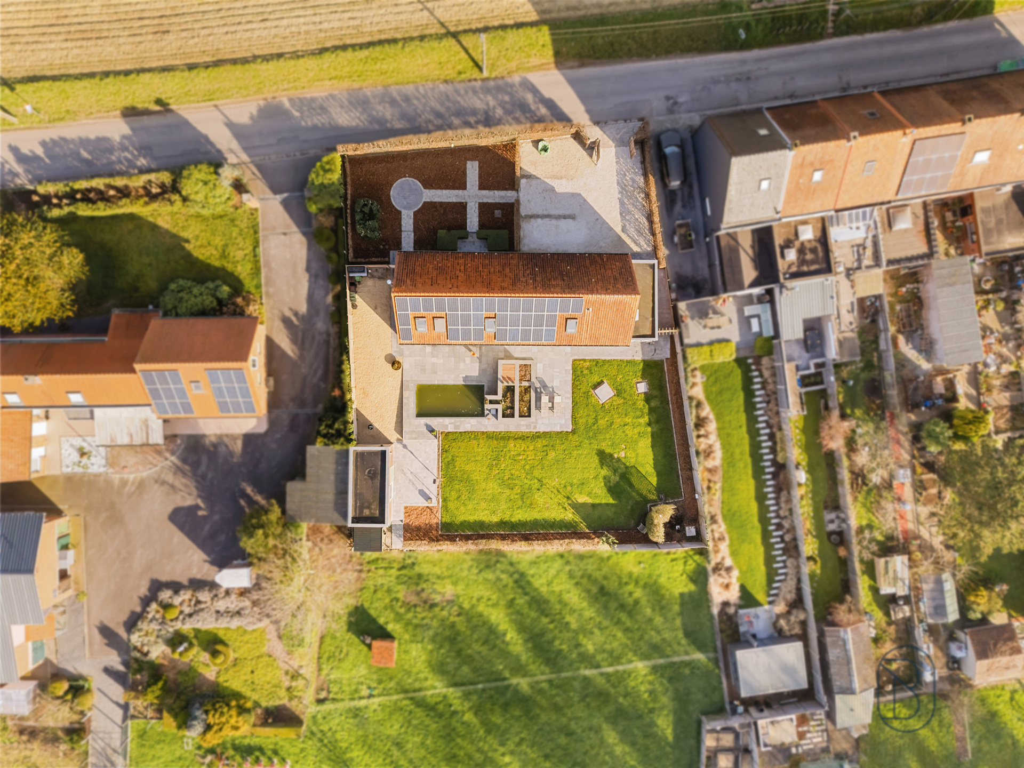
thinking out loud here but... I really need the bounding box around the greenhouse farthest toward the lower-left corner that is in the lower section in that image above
[0,677,47,715]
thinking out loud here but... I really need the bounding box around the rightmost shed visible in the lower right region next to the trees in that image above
[949,606,1024,686]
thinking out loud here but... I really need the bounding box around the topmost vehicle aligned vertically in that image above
[658,136,683,188]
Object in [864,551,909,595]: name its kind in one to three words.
shed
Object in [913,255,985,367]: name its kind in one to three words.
shed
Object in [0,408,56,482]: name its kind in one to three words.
house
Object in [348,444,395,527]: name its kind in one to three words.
building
